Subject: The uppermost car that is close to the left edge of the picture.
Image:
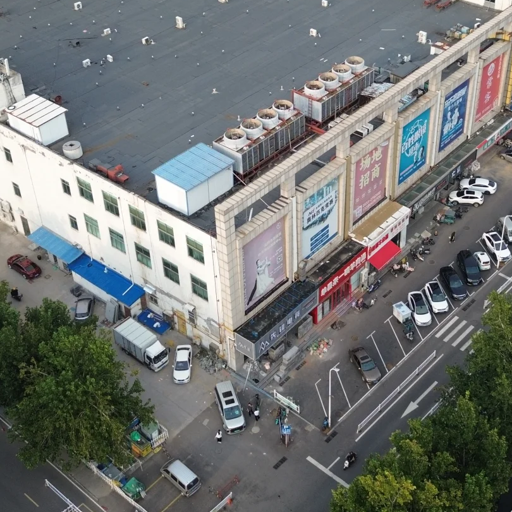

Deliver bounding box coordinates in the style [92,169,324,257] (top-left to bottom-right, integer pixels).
[7,255,41,280]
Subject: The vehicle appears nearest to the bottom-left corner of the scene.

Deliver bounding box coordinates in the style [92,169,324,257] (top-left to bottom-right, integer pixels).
[159,453,205,498]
